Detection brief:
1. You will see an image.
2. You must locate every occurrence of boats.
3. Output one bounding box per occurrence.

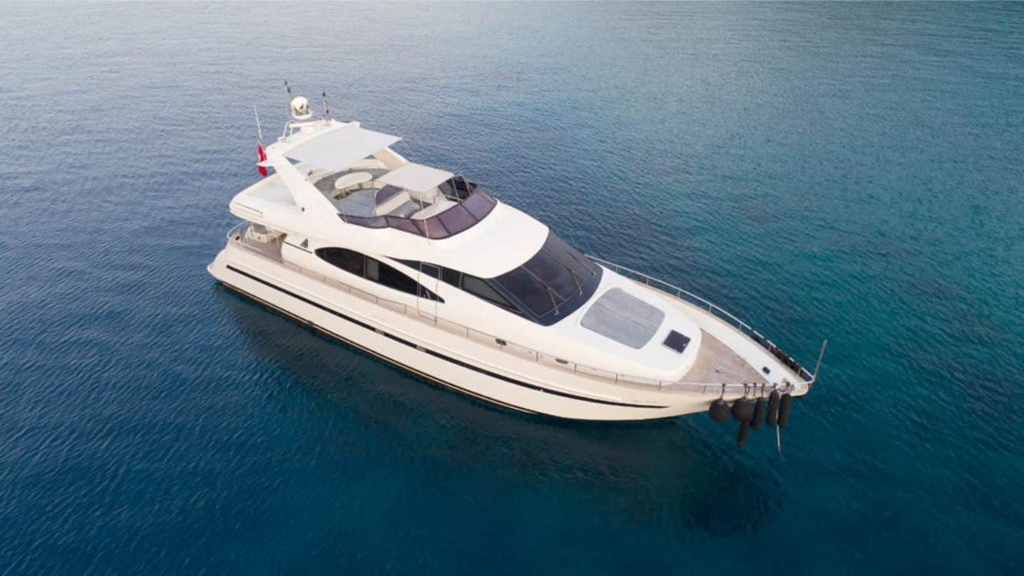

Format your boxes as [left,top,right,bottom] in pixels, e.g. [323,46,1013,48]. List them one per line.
[207,84,829,420]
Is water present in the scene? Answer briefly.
Yes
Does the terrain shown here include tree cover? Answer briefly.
No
